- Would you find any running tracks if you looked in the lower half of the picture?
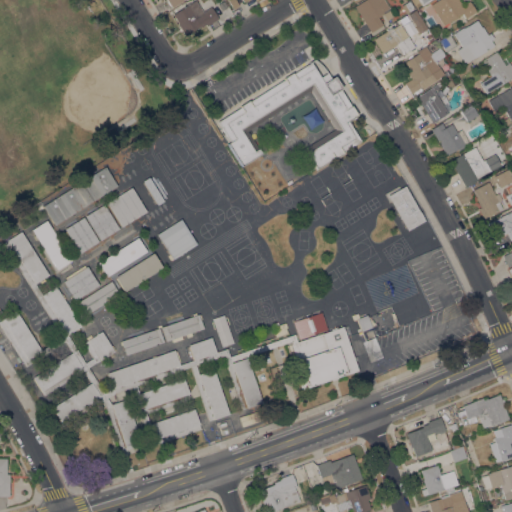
No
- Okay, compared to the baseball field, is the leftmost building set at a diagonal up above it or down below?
below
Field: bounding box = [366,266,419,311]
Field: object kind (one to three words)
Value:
sports court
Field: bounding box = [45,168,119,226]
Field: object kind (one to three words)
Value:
building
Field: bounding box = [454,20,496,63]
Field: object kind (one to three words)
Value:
house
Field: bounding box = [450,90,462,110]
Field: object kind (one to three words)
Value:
swimming pool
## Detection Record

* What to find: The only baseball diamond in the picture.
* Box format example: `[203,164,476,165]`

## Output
[0,0,177,236]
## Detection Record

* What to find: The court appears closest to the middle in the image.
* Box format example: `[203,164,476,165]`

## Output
[226,236,267,279]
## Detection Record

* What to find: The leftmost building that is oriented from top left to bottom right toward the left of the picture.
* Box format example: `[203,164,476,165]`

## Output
[0,314,42,367]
